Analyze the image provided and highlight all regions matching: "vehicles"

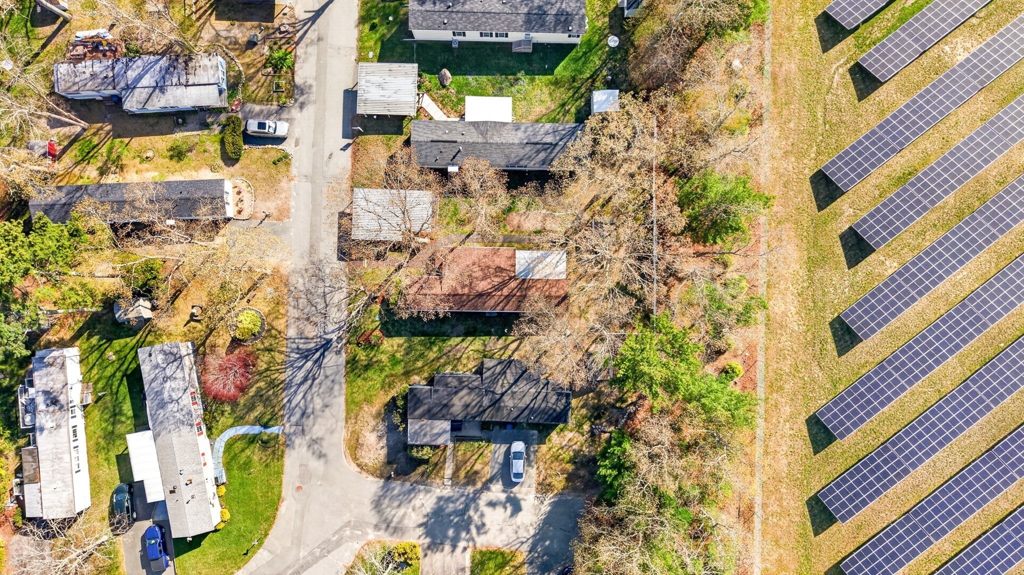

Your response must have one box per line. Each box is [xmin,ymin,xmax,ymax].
[111,482,136,523]
[142,524,170,573]
[508,439,528,483]
[244,117,291,139]
[561,565,578,575]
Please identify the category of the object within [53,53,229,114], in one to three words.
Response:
house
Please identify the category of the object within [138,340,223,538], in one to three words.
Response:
house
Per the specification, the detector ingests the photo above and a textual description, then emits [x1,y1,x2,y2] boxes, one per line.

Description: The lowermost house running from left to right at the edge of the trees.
[407,357,572,445]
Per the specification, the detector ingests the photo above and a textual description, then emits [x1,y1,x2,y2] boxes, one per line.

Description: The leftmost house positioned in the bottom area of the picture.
[3,348,90,520]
